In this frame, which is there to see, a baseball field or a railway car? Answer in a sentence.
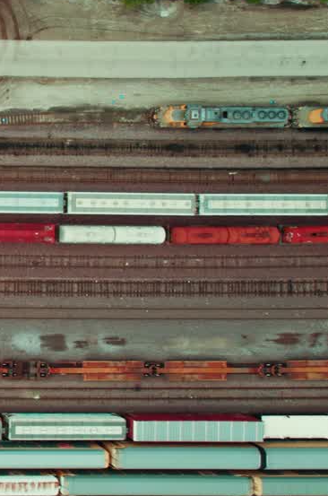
I can see a railway car in this picture.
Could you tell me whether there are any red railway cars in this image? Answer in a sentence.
Yes, the photo shows a red railway car.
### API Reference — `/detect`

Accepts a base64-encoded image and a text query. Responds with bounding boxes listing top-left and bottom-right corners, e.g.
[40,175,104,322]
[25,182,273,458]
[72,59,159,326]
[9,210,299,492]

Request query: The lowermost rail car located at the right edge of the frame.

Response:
[240,466,328,496]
